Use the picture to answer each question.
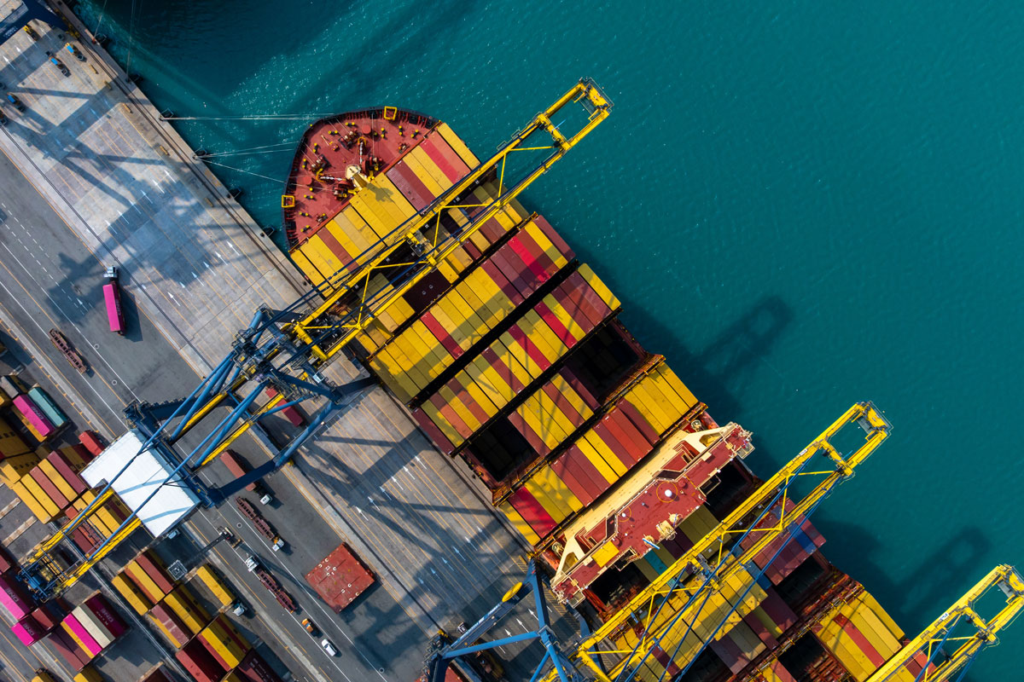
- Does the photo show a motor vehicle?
Yes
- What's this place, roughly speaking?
port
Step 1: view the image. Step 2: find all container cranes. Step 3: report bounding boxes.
[417,398,895,682]
[14,77,615,608]
[0,0,90,50]
[854,556,1024,682]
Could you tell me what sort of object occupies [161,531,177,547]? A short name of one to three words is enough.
car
